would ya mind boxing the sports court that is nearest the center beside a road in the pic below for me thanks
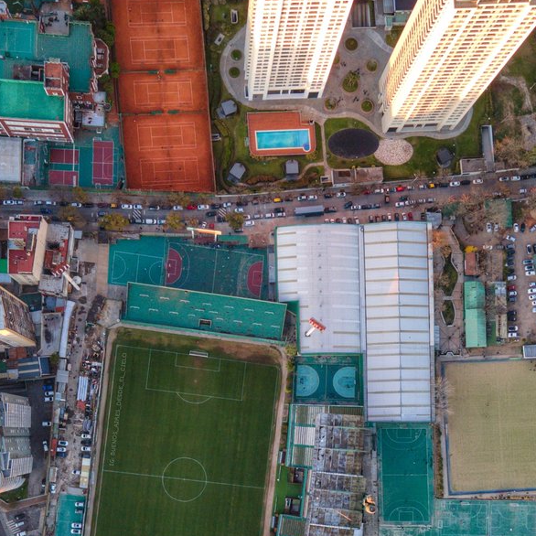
[164,236,276,300]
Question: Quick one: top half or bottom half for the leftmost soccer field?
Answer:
bottom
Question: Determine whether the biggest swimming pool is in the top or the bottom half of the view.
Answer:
top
